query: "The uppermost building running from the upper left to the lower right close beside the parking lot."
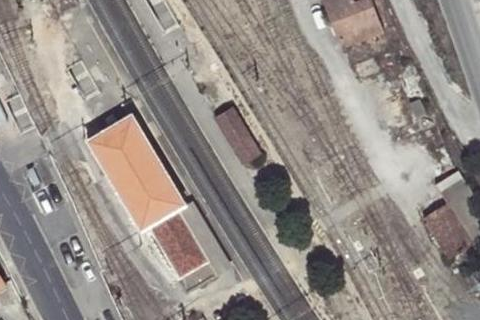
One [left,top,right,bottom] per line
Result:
[87,114,187,233]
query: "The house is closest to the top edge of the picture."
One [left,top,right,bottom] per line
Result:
[324,0,384,48]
